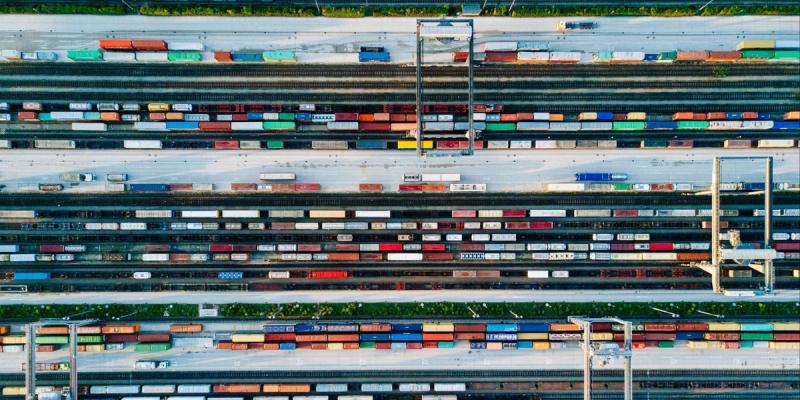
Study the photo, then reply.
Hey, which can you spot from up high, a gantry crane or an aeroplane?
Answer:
gantry crane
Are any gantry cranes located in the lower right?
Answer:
Yes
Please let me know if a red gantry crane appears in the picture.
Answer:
No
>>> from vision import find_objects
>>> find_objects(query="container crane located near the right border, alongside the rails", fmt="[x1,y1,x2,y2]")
[676,157,784,296]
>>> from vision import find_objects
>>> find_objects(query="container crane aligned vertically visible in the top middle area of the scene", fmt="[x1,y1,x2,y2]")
[409,17,476,159]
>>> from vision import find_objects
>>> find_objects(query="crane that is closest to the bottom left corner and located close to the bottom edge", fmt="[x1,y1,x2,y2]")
[27,318,115,400]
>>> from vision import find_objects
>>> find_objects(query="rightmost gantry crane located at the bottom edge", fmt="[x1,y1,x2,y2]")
[561,318,631,400]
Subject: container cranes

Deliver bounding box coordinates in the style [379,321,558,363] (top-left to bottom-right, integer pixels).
[676,157,784,296]
[561,318,631,400]
[409,17,476,159]
[27,318,115,400]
